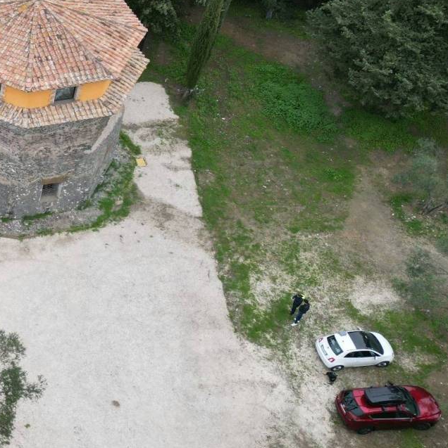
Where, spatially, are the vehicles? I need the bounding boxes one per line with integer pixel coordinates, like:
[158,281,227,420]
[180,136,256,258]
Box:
[330,376,443,434]
[315,322,397,371]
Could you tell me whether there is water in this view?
No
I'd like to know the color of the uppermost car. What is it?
white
